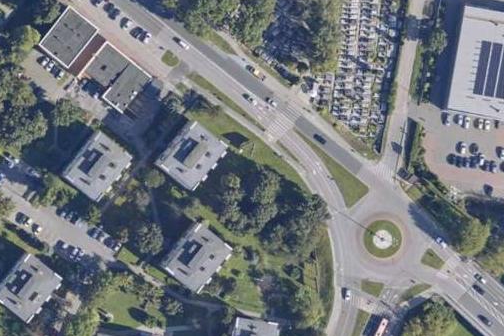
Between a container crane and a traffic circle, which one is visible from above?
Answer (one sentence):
Of the two, only a traffic circle appears.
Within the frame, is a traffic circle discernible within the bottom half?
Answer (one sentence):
Yes, there is a traffic circle within the bottom half.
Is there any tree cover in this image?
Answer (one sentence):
Yes, tree cover can be seen from above here.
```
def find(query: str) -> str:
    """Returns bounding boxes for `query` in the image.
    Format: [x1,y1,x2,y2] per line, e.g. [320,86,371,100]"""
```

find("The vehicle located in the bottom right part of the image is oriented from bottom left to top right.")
[374,316,391,336]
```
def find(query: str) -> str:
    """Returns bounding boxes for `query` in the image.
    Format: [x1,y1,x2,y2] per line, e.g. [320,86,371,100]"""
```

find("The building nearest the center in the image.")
[156,121,229,190]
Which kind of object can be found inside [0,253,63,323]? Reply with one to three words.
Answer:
building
